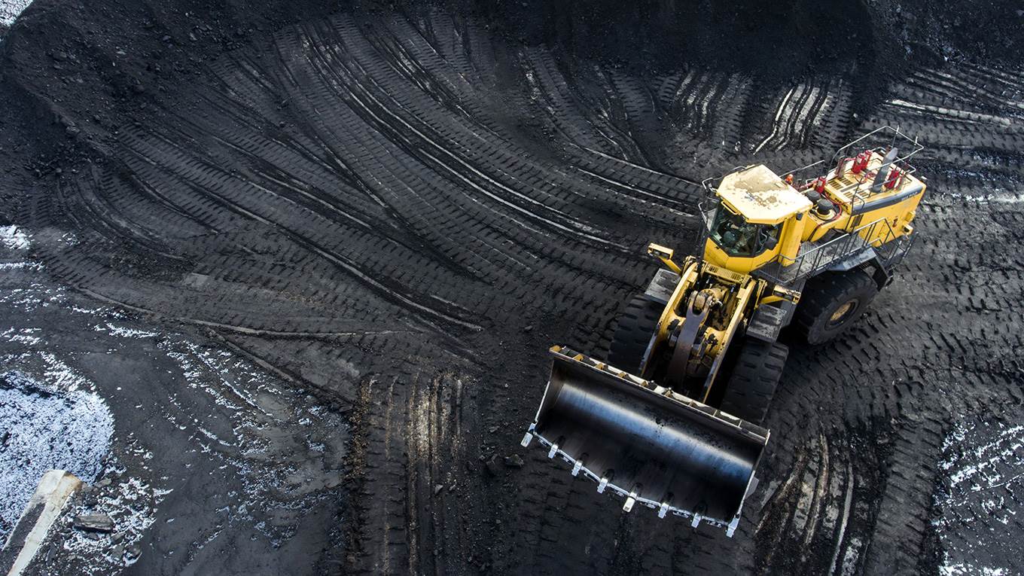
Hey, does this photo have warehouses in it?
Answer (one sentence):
No, the picture doesn't show any warehouse.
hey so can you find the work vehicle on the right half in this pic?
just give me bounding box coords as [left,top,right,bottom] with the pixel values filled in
[522,125,927,538]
